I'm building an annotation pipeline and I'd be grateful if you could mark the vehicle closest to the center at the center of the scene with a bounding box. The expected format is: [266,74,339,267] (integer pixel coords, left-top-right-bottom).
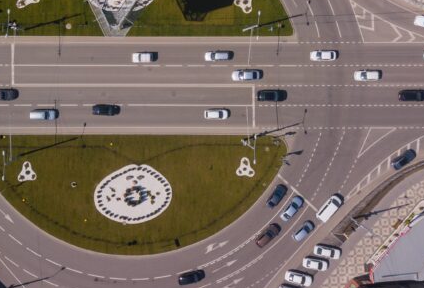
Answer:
[203,109,229,121]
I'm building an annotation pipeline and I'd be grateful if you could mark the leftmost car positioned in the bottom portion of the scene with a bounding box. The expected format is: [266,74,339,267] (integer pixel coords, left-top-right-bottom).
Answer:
[177,268,206,286]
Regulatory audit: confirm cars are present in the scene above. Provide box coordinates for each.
[413,14,424,27]
[302,256,329,272]
[257,89,286,102]
[177,268,206,286]
[266,184,288,208]
[284,269,312,286]
[311,50,335,62]
[353,69,381,82]
[0,88,17,101]
[92,104,119,116]
[281,195,305,222]
[131,52,157,64]
[398,88,424,102]
[233,69,260,82]
[389,147,417,171]
[205,50,230,62]
[293,219,316,242]
[203,109,229,121]
[30,108,59,121]
[256,223,281,249]
[313,244,343,260]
